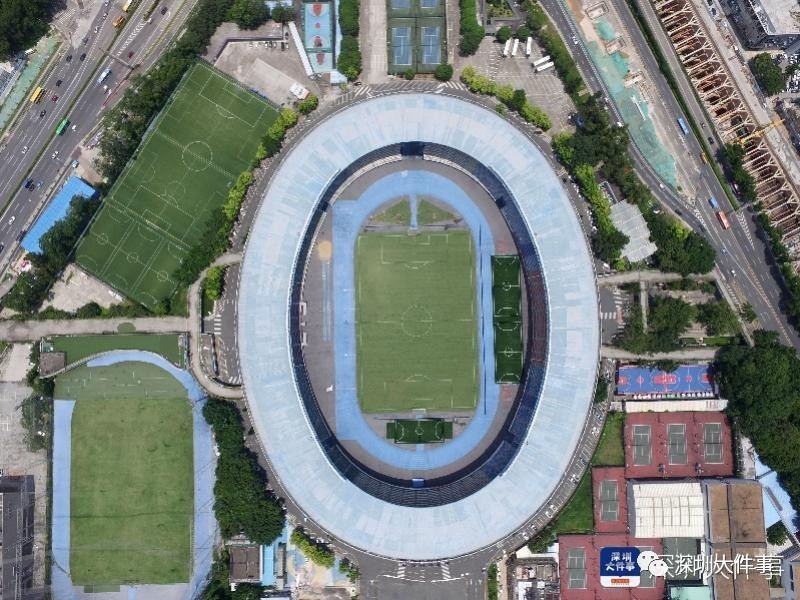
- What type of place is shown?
sports ground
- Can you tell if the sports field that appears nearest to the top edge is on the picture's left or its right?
left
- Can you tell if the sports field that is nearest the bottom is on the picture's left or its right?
left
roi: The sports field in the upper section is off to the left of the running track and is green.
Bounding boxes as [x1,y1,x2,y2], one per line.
[77,58,282,308]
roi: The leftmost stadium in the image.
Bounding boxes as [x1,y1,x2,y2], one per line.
[240,94,598,561]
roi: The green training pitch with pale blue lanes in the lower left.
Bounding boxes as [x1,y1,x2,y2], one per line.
[52,350,218,600]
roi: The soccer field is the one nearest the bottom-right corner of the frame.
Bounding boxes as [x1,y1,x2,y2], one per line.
[356,230,478,413]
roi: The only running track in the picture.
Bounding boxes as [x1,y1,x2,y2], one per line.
[333,170,497,470]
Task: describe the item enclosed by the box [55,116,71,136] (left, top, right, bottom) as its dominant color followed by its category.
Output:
green vehicle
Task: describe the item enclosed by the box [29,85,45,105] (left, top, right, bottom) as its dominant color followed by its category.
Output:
yellow vehicle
